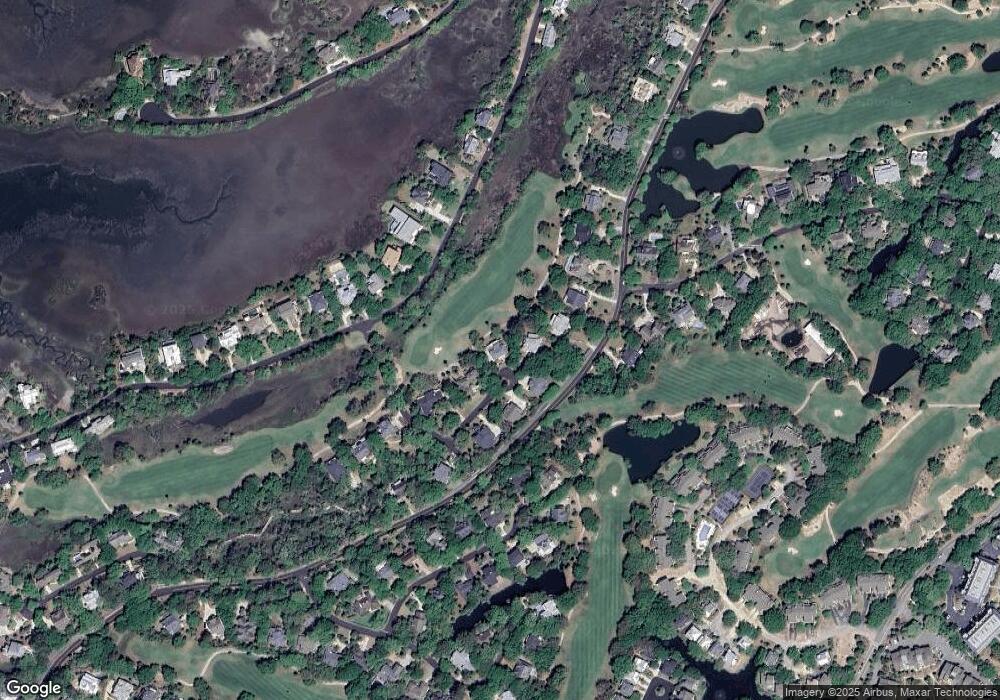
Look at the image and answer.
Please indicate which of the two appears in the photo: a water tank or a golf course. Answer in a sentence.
The one in the frame is a golf course.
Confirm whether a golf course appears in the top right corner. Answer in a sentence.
Yes, a golf course is visible in the top right corner.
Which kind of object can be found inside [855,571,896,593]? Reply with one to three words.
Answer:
building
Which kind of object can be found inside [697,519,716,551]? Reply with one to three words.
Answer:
swimming pool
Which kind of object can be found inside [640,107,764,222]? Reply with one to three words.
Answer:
pond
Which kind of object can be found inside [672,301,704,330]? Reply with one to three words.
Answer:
house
